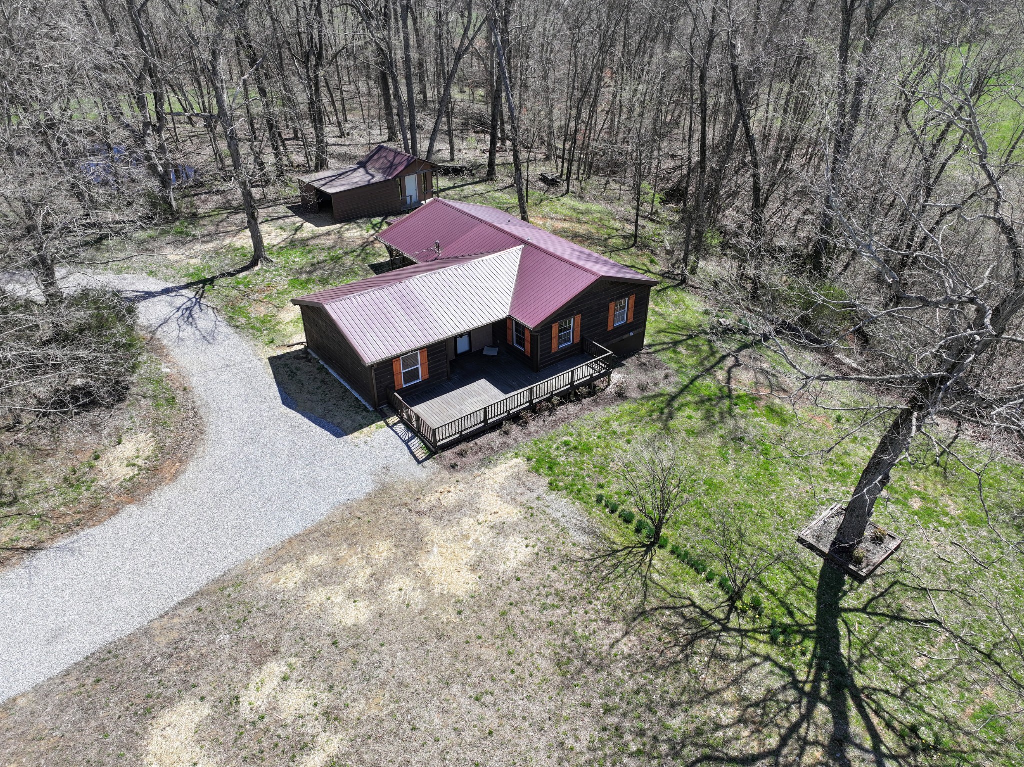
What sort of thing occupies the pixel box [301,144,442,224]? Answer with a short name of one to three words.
shed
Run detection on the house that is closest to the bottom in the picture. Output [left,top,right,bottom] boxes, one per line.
[291,198,661,417]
